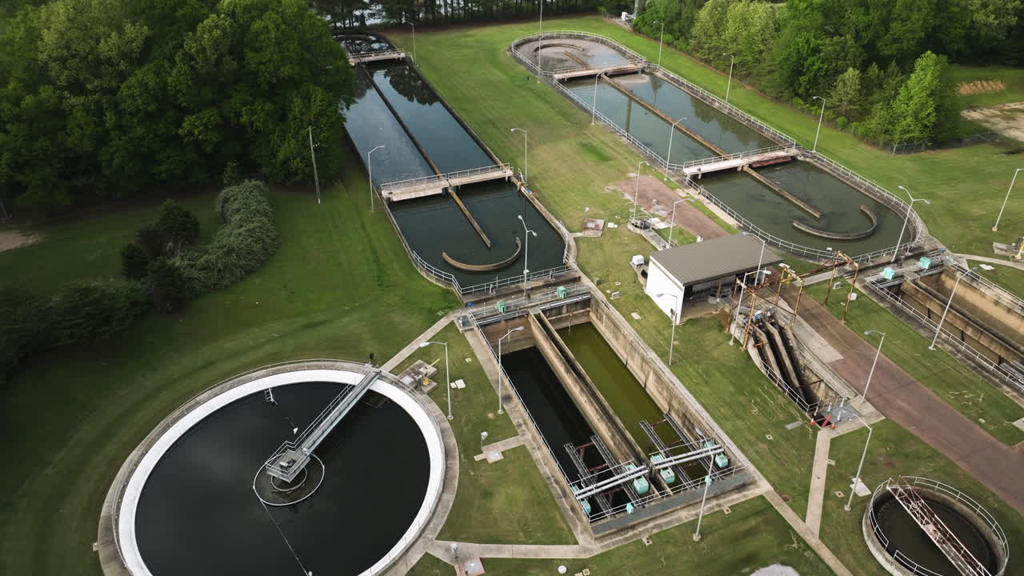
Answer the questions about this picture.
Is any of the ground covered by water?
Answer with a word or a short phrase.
Yes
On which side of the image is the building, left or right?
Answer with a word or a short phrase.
right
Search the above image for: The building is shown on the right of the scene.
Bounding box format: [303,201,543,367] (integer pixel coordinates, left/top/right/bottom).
[645,232,788,324]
